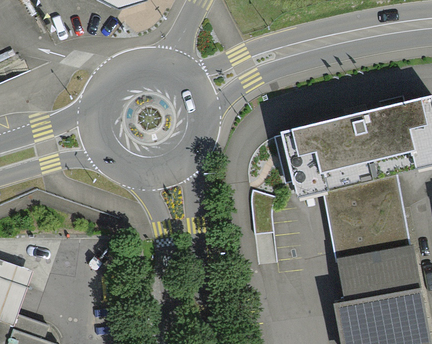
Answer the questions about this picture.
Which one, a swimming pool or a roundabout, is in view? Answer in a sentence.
This aerial view contains a roundabout.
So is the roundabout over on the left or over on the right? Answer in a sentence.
The roundabout is on the left side of the image.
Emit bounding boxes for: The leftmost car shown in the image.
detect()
[26,245,51,258]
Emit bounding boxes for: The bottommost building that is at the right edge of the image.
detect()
[334,288,431,344]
